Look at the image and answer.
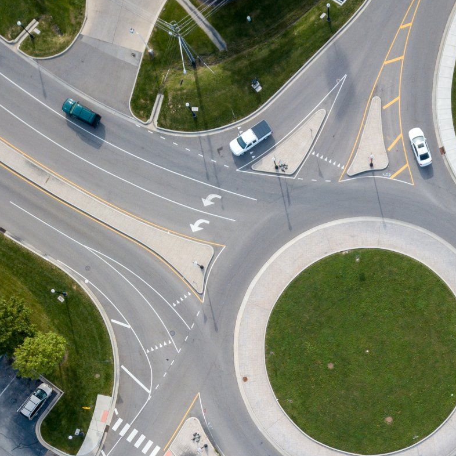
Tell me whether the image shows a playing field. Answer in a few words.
No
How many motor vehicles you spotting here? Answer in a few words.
4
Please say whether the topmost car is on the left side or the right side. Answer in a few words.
left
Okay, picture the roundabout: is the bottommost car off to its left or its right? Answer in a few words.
left of it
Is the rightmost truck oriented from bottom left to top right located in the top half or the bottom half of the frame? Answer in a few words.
top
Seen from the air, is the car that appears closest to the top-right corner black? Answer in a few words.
No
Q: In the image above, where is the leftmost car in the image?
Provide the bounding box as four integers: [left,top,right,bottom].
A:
[20,383,53,420]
